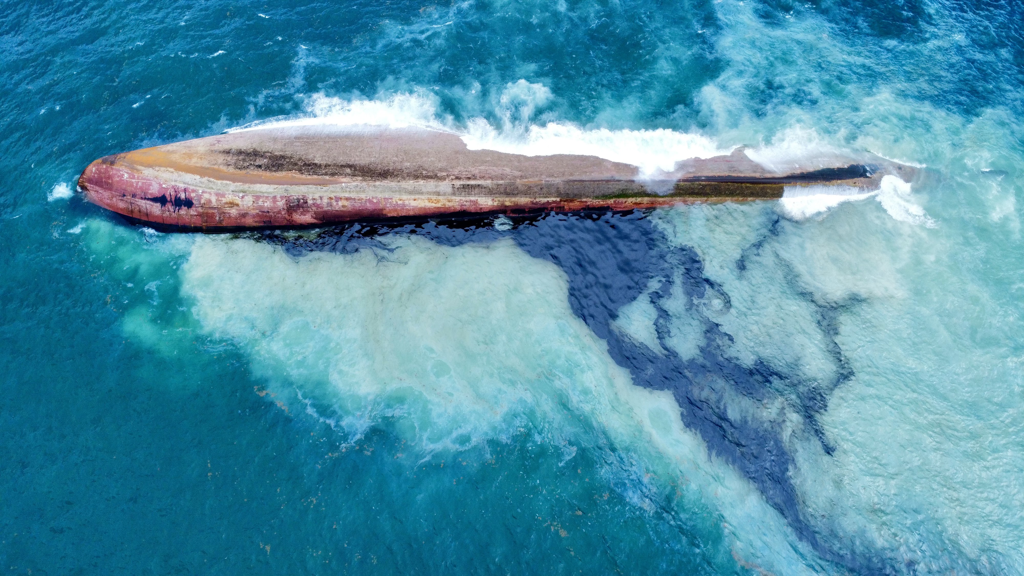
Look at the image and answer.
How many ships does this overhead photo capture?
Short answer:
1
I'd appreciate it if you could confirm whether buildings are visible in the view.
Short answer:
No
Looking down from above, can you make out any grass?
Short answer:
No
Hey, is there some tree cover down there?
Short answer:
No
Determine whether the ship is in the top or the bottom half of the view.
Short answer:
top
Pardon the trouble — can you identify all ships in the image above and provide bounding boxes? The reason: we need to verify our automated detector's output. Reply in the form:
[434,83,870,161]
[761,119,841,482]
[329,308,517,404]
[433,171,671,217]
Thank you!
[78,127,898,232]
